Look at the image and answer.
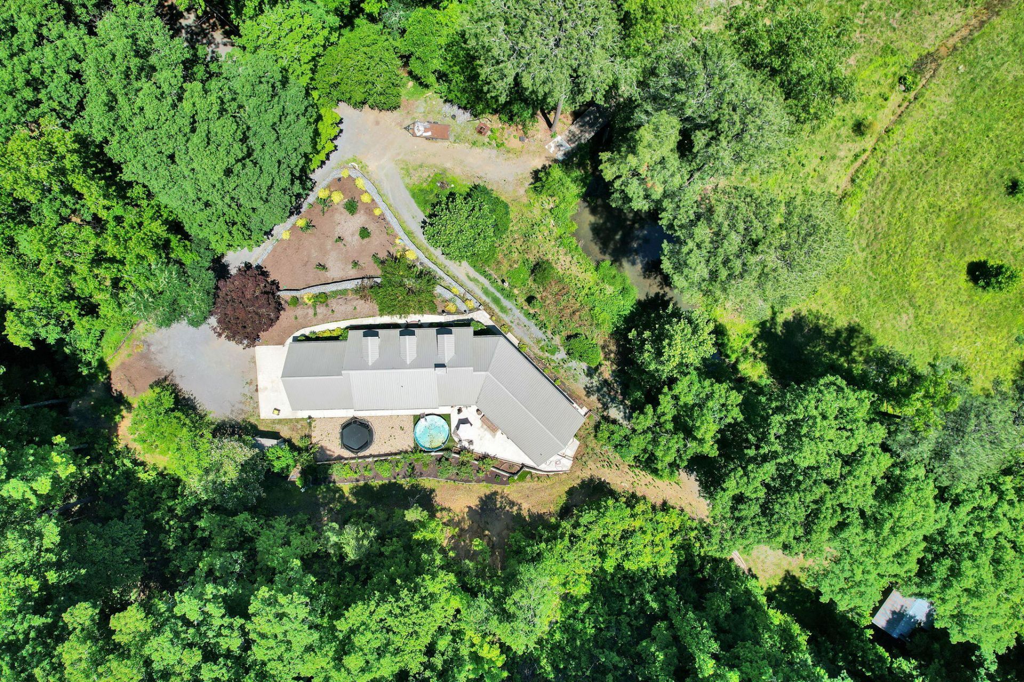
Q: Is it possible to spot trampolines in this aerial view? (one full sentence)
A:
Yes, a trampoline is visible in the scene.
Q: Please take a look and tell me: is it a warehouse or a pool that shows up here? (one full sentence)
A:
Of the two, only a pool appears.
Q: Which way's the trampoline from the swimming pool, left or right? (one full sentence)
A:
Relative to the swimming pool, the trampoline is on the left.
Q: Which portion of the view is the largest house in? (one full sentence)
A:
The largest house sits in the center section of the image.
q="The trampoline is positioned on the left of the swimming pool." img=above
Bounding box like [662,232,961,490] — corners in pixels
[338,418,374,456]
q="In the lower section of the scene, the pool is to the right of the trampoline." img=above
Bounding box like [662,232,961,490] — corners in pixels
[414,414,451,451]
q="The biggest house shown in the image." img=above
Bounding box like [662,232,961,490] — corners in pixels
[281,327,586,467]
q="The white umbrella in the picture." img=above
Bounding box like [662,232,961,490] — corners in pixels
[456,422,479,443]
